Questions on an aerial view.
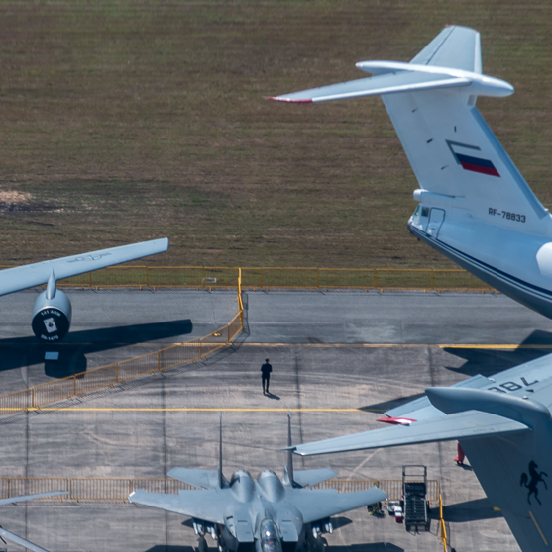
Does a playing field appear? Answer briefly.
No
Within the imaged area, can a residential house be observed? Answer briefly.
No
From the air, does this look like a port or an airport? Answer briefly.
airport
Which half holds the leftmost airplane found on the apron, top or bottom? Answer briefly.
bottom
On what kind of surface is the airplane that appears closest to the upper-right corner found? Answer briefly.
grass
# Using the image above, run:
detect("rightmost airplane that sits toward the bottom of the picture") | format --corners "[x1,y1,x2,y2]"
[274,382,552,552]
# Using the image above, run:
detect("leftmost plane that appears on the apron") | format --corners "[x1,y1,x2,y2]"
[127,418,387,552]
